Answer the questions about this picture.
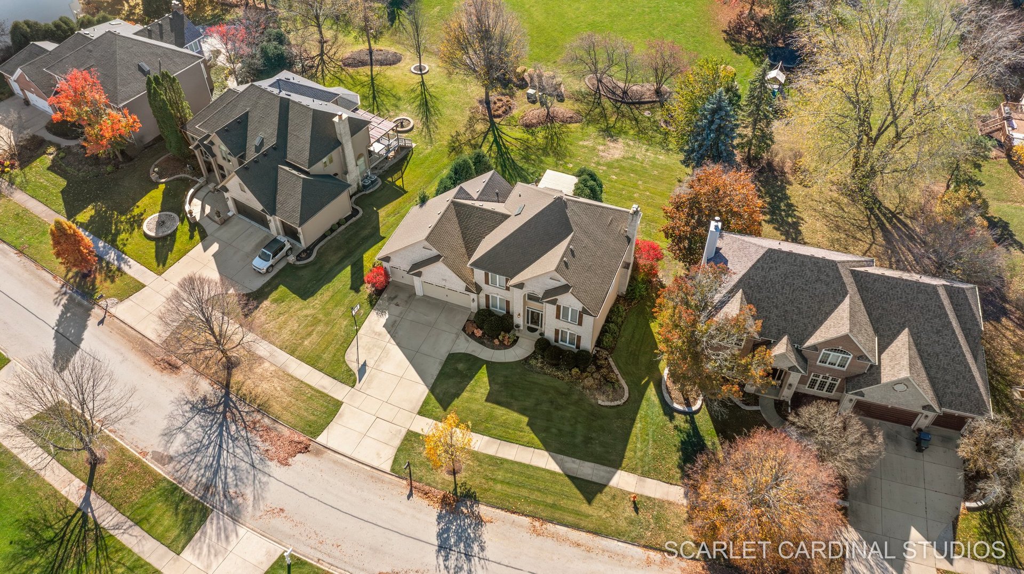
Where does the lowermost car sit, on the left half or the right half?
left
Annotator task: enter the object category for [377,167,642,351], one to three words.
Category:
house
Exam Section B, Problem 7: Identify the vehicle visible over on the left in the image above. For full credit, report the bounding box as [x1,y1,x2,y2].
[251,233,294,271]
